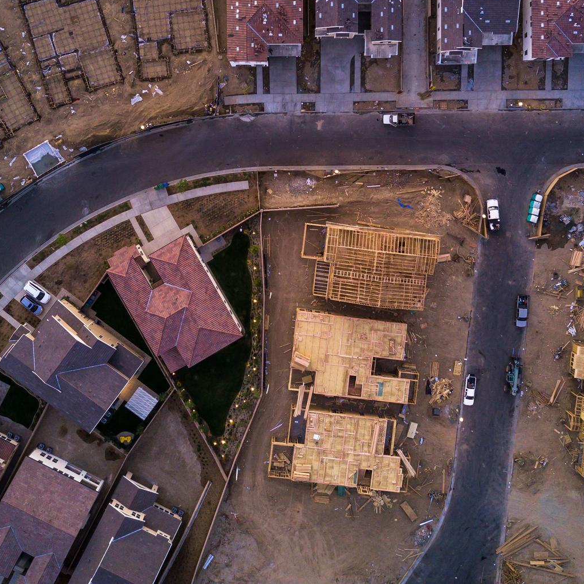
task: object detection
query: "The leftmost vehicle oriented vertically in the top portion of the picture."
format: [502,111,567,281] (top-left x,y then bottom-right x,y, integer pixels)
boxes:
[487,198,502,232]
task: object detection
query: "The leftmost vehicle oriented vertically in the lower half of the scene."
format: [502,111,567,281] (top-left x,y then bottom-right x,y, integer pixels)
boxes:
[463,373,479,408]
